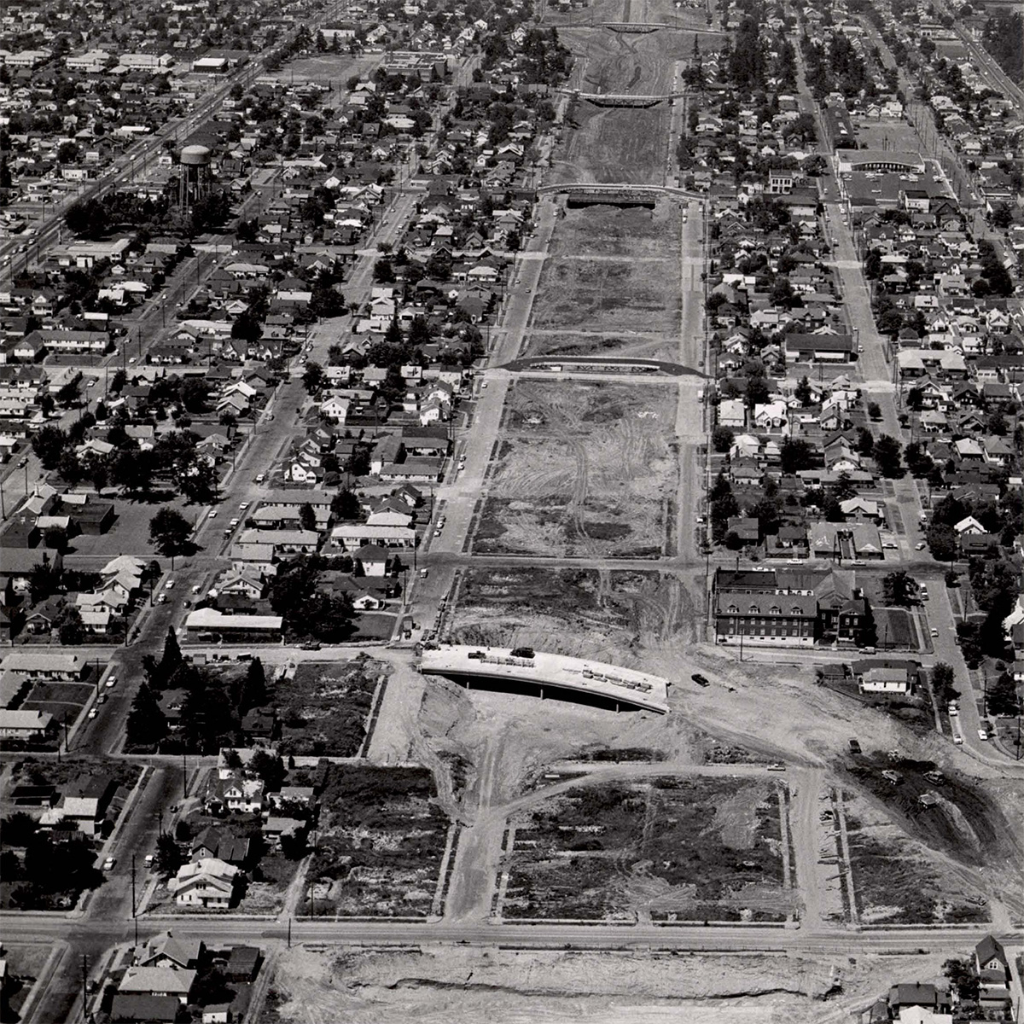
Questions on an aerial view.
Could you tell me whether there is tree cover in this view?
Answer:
Yes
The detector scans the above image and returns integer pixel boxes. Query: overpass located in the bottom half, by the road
[420,643,671,726]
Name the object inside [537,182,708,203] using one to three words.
overpass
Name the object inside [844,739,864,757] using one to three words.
vehicle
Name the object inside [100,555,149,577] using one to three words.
house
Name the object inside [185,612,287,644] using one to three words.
building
